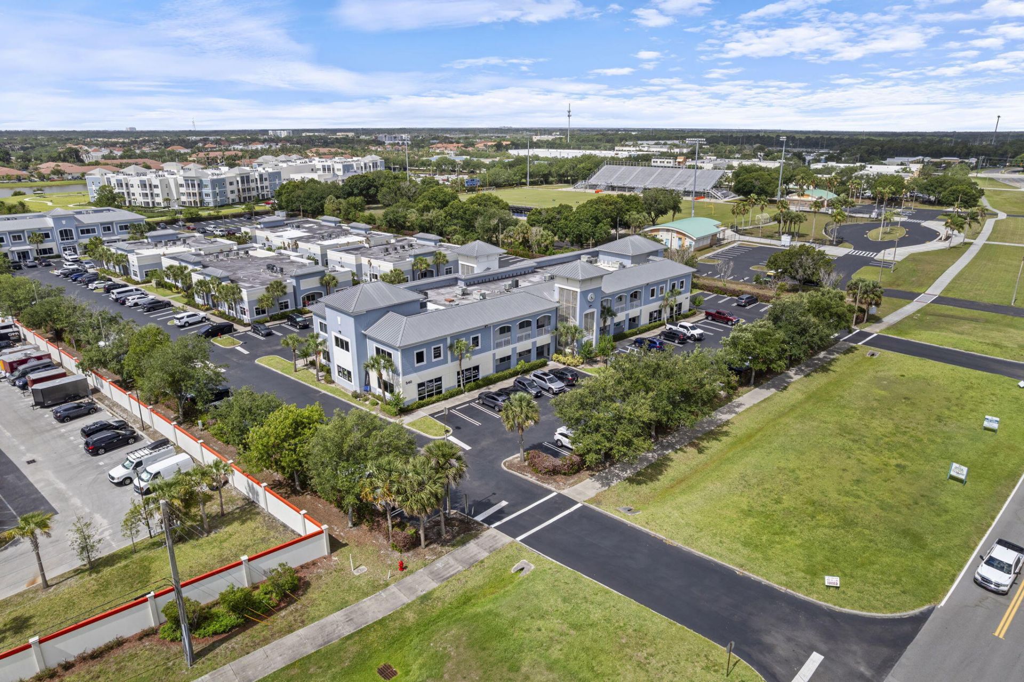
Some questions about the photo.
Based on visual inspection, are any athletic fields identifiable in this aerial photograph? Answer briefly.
Yes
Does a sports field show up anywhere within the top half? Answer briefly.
Yes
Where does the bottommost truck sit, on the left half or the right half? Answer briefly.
right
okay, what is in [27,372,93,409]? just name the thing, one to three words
trailer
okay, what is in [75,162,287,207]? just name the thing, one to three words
building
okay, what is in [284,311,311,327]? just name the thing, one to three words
car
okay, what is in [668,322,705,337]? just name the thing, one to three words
vehicle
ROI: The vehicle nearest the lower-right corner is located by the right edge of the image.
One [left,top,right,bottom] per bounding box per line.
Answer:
[973,541,1024,596]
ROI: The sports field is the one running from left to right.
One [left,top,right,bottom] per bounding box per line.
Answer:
[494,186,830,247]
